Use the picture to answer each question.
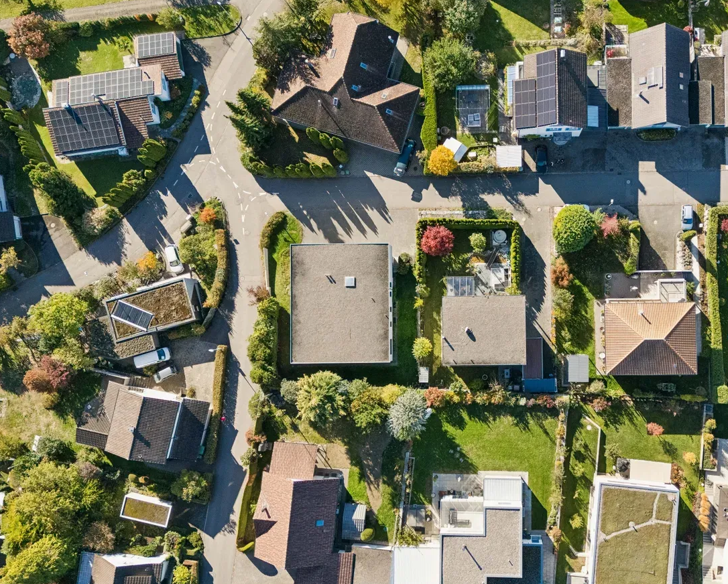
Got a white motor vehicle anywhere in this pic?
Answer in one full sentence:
Yes, a white motor vehicle appears in the view.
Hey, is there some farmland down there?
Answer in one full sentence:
No, no farmland is visible.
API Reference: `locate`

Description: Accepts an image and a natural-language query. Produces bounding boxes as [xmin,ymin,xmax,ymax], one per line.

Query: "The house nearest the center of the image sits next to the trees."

[290,244,394,364]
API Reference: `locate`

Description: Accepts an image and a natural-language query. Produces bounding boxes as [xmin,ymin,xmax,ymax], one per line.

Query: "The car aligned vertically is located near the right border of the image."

[680,204,692,231]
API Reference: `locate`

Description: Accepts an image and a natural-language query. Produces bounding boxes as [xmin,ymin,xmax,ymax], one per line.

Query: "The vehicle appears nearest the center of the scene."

[393,139,416,176]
